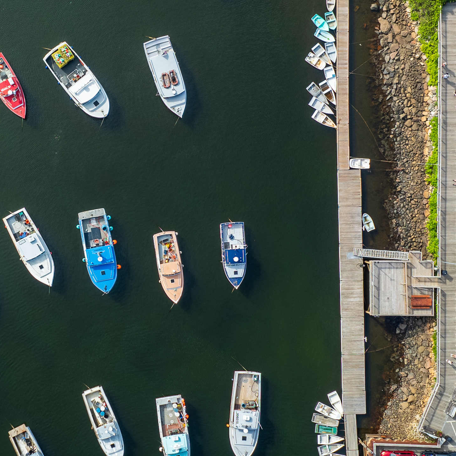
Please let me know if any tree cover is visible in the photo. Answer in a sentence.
No, there is no tree cover in the image.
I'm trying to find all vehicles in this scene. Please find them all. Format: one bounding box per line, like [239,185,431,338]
[380,450,416,456]
[419,449,456,456]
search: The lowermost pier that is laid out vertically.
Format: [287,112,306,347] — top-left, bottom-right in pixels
[343,415,358,450]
